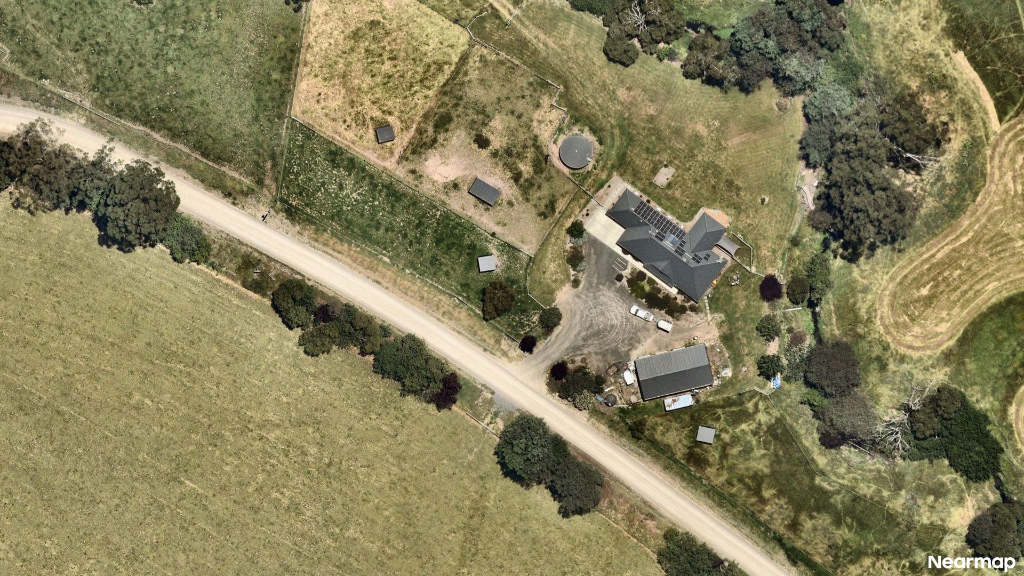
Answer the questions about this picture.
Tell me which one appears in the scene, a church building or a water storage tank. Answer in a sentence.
Looking from above, you can make out a water storage tank.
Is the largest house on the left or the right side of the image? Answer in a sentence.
It is on the right.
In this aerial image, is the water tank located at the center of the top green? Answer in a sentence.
No, the color of the water tank located at the center of the top is gray.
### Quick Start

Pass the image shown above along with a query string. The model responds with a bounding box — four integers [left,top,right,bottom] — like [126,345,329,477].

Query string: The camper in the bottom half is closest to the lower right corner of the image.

[664,394,693,411]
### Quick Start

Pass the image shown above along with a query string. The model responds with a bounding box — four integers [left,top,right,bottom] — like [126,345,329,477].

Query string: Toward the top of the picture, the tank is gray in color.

[559,134,594,169]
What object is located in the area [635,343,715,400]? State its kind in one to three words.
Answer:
shed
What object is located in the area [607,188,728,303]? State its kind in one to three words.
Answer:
house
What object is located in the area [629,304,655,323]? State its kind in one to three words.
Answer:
vehicle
